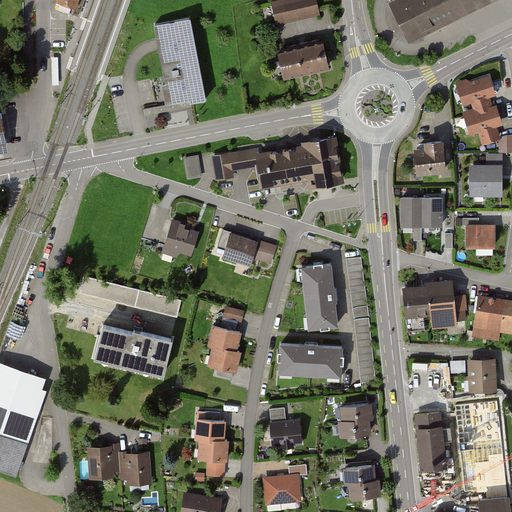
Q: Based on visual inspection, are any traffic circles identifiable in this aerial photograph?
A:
Yes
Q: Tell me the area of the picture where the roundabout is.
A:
top right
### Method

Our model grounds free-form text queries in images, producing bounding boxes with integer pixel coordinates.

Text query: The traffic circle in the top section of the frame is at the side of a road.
[338,68,416,144]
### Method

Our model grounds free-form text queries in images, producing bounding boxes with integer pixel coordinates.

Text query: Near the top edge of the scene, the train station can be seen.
[66,0,132,81]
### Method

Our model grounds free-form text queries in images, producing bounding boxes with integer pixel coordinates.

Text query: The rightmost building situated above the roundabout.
[389,0,498,44]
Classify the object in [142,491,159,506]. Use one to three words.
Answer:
swimming pool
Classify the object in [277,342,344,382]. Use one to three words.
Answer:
building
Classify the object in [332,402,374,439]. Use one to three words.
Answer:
house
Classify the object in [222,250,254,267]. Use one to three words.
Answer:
solar panel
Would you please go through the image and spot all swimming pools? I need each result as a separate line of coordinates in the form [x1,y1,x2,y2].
[79,460,88,480]
[142,491,159,506]
[456,249,466,260]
